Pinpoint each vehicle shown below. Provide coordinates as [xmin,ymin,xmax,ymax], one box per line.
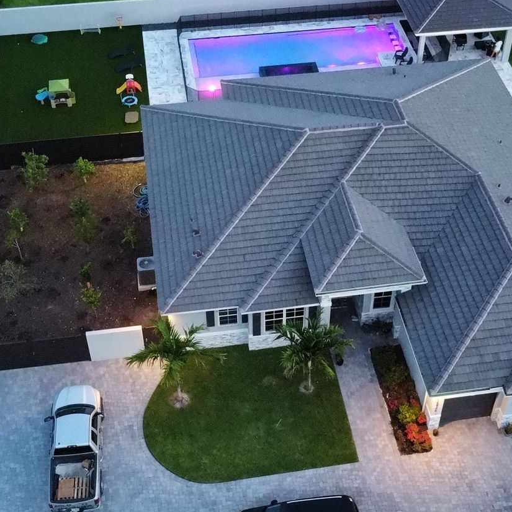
[241,490,360,512]
[43,386,106,512]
